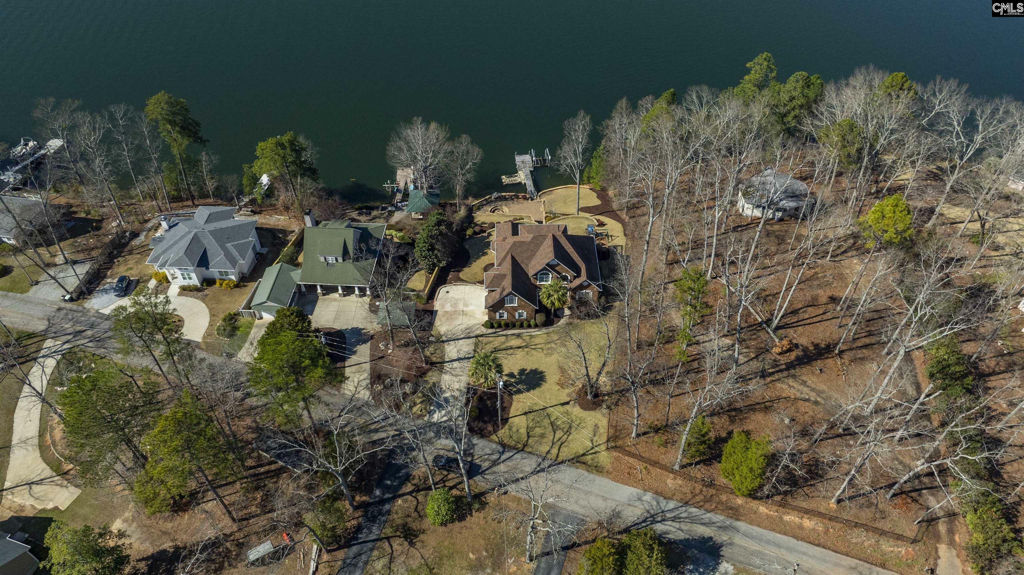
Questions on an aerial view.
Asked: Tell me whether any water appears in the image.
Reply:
Yes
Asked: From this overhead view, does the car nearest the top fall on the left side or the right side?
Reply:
left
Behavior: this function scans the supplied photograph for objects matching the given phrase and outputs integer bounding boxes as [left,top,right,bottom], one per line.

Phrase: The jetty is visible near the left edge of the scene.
[1,139,72,183]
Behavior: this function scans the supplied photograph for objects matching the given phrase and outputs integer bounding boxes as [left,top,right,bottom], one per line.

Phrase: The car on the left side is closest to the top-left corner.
[110,272,139,295]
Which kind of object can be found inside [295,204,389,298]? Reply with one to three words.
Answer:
building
